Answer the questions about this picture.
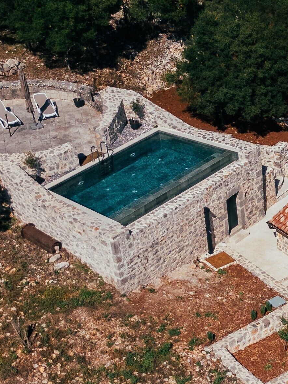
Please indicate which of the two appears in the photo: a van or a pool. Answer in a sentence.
This aerial view contains a pool.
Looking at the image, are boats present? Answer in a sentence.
No, the picture doesn't show any boat.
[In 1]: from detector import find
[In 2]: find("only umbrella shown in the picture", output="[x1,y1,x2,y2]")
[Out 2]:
[23,76,43,127]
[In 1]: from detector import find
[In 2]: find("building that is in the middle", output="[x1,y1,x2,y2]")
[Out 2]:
[0,144,266,308]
